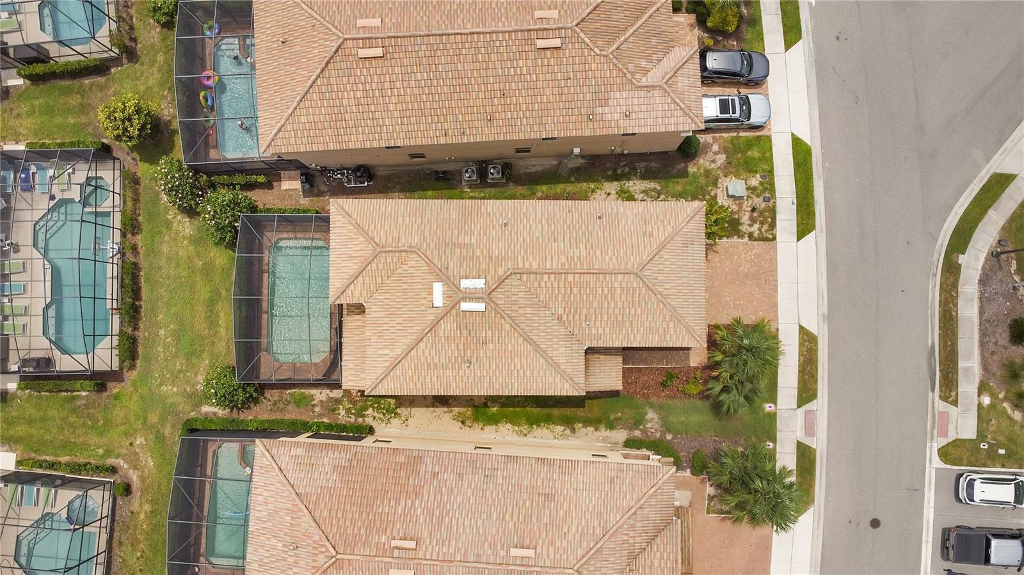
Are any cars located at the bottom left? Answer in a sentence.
No, no car is visible at the bottom left.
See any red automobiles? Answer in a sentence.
No, the frame has no red automobile in it.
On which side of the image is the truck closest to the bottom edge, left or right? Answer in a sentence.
The truck closest to the bottom edge sits on the right side.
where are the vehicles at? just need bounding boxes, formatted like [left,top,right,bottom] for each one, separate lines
[947,522,1024,565]
[705,90,770,131]
[954,467,1024,509]
[700,45,768,86]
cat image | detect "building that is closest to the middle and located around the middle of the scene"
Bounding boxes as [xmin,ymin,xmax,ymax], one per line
[327,198,709,397]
